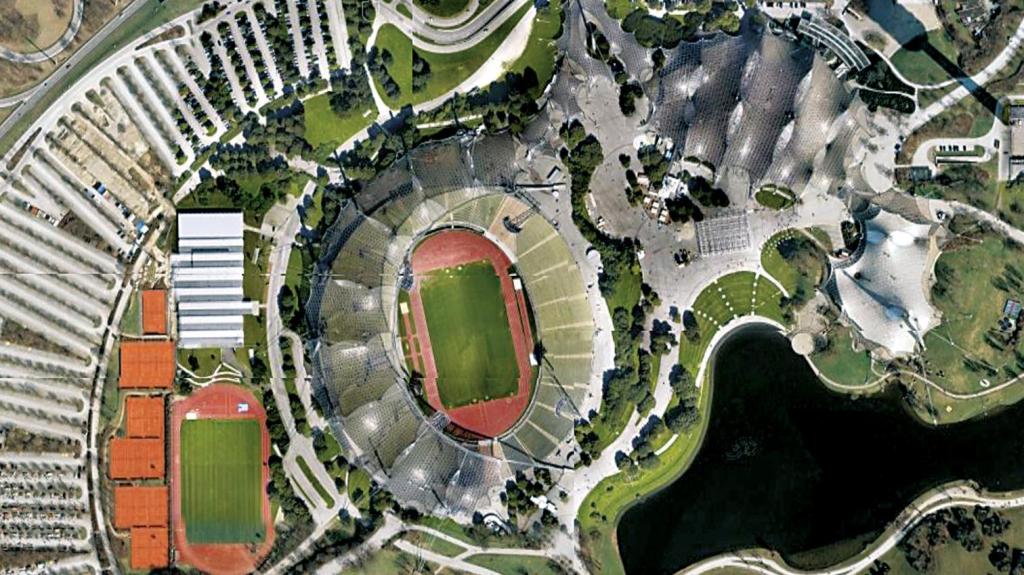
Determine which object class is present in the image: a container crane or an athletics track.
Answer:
athletics track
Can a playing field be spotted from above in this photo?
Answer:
Yes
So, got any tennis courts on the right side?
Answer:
No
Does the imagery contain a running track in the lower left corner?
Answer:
Yes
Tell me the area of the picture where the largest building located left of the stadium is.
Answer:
left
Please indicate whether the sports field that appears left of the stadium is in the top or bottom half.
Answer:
bottom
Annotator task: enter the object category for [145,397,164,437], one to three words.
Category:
tennis court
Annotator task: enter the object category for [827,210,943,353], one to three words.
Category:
building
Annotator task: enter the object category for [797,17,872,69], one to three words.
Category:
building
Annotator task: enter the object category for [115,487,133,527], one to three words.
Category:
tennis court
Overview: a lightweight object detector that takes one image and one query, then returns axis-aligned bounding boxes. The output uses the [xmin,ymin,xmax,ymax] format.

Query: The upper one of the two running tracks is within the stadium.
[403,230,534,436]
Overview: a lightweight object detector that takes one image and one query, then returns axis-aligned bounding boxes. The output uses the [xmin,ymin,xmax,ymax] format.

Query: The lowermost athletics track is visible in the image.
[172,383,273,575]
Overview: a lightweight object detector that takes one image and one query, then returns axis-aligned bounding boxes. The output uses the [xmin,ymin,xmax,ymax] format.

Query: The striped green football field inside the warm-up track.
[182,419,265,543]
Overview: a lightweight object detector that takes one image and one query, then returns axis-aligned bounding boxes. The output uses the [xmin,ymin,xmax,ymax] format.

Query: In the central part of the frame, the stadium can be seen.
[305,131,595,516]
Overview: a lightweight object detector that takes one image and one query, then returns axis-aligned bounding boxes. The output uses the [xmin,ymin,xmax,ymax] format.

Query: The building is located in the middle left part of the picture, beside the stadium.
[170,212,259,348]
